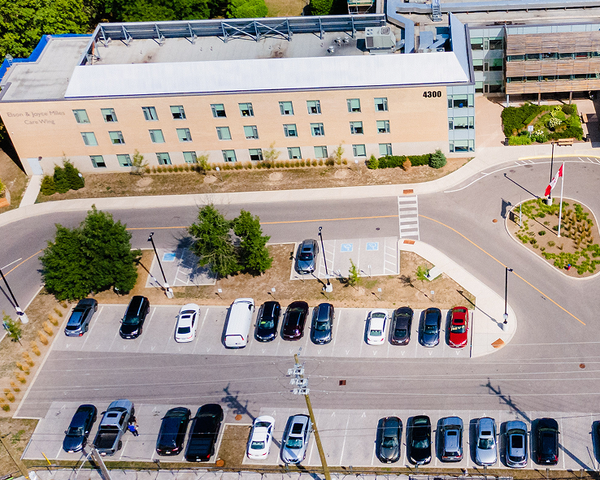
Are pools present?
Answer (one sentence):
No, there appears to be no pool in this shot.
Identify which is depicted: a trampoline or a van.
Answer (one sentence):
It is a van that can be seen here.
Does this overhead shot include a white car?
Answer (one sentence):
Yes, looking at the shot, I can spot a white car.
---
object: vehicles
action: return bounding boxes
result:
[364,310,389,349]
[220,301,258,348]
[309,302,336,343]
[472,417,499,469]
[446,308,470,349]
[171,306,203,344]
[245,416,278,465]
[294,240,319,274]
[253,301,282,342]
[418,308,442,349]
[61,301,100,338]
[437,417,464,467]
[533,419,560,469]
[502,421,527,468]
[375,416,403,467]
[405,416,432,467]
[280,301,308,342]
[182,404,225,465]
[390,308,414,348]
[61,404,102,454]
[117,294,154,340]
[152,407,193,460]
[89,398,137,458]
